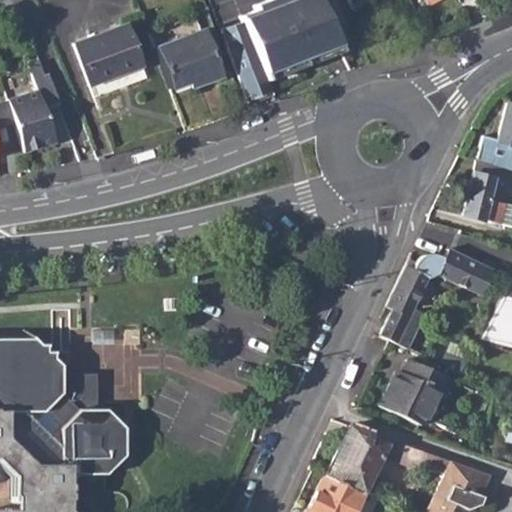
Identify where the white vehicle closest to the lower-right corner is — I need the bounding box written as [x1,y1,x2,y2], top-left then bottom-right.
[340,359,360,388]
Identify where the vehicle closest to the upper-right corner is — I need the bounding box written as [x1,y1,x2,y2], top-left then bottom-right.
[458,52,482,67]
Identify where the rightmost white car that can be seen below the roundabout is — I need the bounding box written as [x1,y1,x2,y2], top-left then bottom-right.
[416,240,440,254]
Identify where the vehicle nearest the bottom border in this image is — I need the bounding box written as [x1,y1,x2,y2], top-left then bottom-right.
[244,478,258,500]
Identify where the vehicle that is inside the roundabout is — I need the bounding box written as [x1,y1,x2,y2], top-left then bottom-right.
[408,140,430,161]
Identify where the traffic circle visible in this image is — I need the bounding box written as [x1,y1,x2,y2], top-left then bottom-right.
[317,80,444,206]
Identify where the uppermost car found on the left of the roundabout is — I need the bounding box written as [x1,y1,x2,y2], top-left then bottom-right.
[242,116,264,130]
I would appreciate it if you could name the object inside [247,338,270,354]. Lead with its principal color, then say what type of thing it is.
white car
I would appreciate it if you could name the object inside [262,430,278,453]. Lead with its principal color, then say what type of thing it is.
blue car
